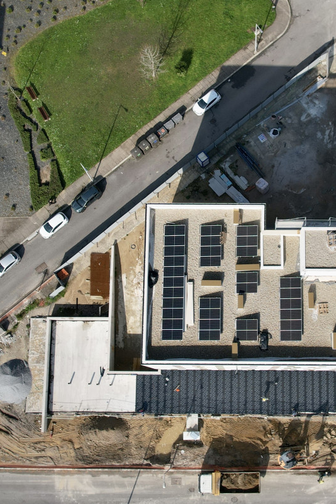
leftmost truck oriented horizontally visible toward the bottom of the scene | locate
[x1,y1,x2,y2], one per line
[198,473,265,499]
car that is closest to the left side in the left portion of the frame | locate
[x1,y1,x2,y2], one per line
[0,250,24,279]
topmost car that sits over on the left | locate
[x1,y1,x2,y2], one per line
[71,180,103,211]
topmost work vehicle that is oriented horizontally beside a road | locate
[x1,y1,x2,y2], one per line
[273,448,324,473]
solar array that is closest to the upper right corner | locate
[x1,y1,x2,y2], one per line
[237,226,258,258]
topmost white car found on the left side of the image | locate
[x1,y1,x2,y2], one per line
[38,211,70,239]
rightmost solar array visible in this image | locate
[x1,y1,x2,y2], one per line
[279,278,302,342]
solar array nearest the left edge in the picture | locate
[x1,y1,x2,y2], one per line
[162,225,186,341]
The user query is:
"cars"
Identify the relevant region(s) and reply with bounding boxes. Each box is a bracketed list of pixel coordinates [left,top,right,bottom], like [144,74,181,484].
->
[71,180,103,211]
[0,250,24,279]
[192,89,221,116]
[38,211,70,239]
